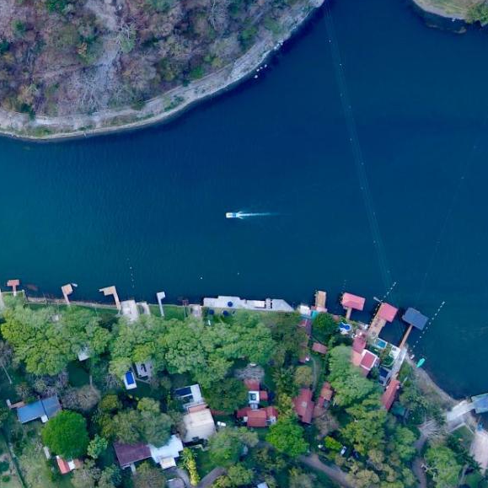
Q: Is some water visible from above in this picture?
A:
Yes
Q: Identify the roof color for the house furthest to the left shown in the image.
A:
blue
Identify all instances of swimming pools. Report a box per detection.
[123,370,136,390]
[337,322,353,335]
[375,337,388,350]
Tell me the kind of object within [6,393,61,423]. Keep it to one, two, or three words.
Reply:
house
